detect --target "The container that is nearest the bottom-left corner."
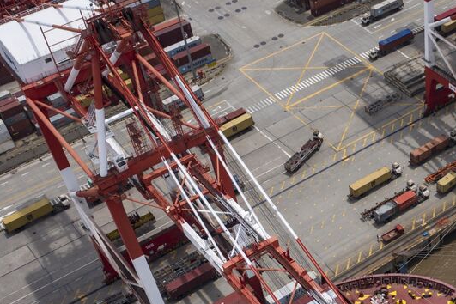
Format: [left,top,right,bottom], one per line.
[0,196,52,231]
